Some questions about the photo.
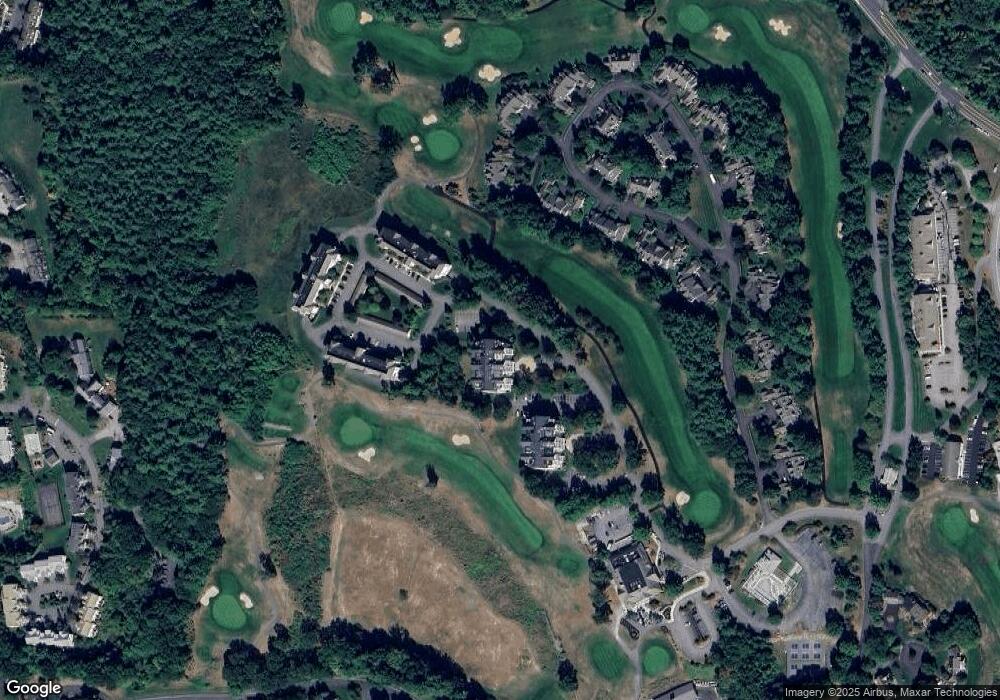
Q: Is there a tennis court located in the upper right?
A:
No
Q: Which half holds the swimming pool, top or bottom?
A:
bottom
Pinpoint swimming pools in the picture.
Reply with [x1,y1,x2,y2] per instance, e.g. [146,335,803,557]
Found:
[0,499,22,536]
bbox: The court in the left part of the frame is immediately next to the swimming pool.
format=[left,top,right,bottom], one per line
[37,482,62,526]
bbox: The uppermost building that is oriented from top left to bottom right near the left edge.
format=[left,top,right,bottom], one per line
[0,168,30,211]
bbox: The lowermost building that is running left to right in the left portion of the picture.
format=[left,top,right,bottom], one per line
[23,629,77,648]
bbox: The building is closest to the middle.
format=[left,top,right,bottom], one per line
[469,338,513,394]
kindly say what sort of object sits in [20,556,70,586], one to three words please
house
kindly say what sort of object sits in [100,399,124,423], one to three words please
barn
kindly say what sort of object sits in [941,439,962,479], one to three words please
building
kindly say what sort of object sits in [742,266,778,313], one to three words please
house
